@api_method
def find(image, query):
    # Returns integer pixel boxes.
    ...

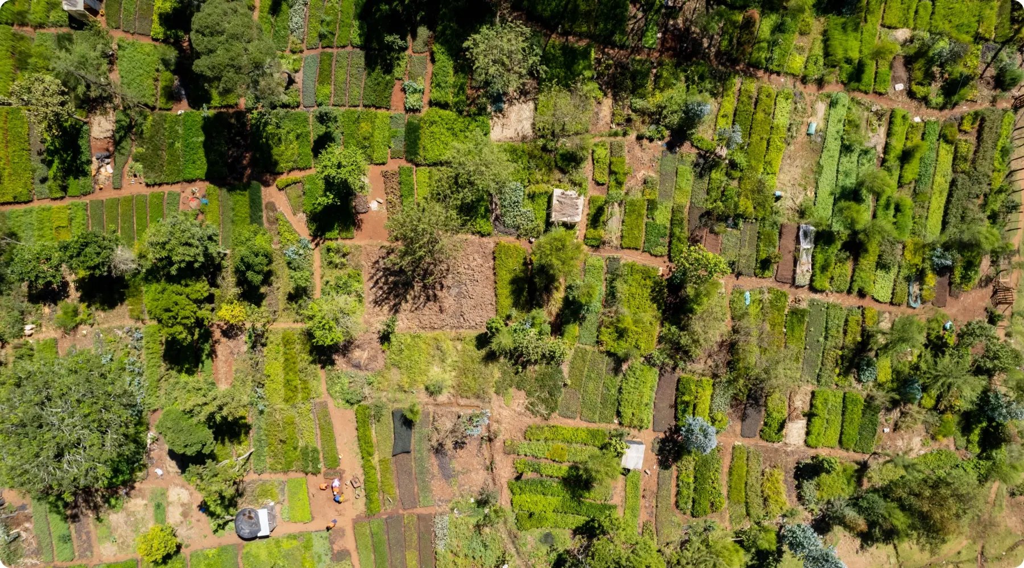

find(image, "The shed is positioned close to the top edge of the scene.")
[62,0,113,29]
